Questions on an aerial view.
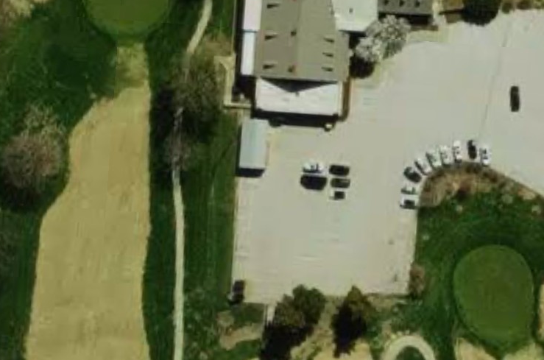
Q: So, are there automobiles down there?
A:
Yes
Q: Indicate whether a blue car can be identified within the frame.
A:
No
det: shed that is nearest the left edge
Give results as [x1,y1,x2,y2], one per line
[239,121,269,169]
